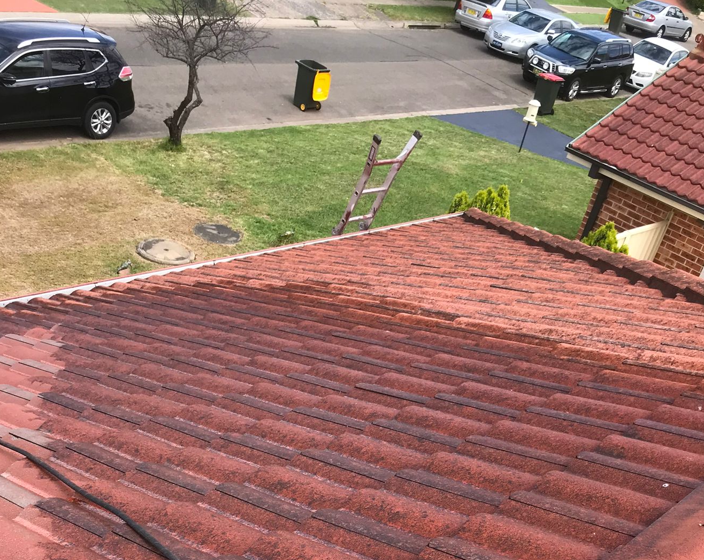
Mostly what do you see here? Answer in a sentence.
For the most part, this view shows buildings.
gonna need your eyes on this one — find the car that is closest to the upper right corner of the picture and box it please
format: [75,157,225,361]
[629,0,692,40]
